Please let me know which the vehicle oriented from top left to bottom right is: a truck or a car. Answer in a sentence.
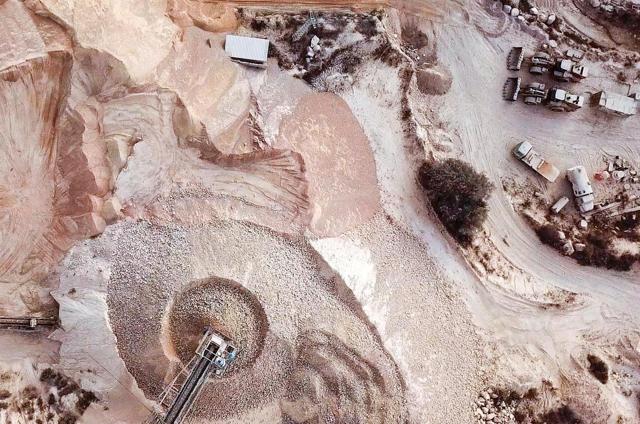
The vehicle oriented from top left to bottom right is a truck.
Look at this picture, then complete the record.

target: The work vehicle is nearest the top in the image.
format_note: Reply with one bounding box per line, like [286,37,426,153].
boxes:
[512,46,595,81]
